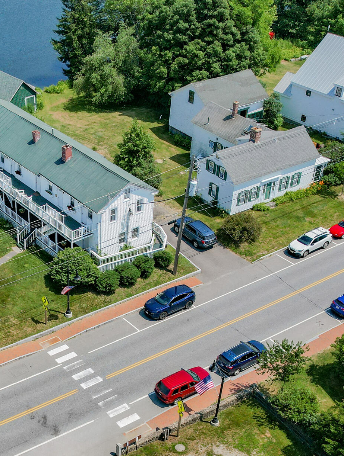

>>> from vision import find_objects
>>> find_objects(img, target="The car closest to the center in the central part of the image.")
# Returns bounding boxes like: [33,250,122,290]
[171,219,222,249]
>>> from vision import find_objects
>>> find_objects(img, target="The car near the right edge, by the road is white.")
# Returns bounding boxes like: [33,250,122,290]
[286,225,334,257]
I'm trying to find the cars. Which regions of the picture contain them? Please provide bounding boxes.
[211,341,266,377]
[328,293,344,321]
[143,285,198,321]
[171,219,222,249]
[151,367,211,406]
[331,223,344,243]
[286,225,334,257]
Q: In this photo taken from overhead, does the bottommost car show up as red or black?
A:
red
